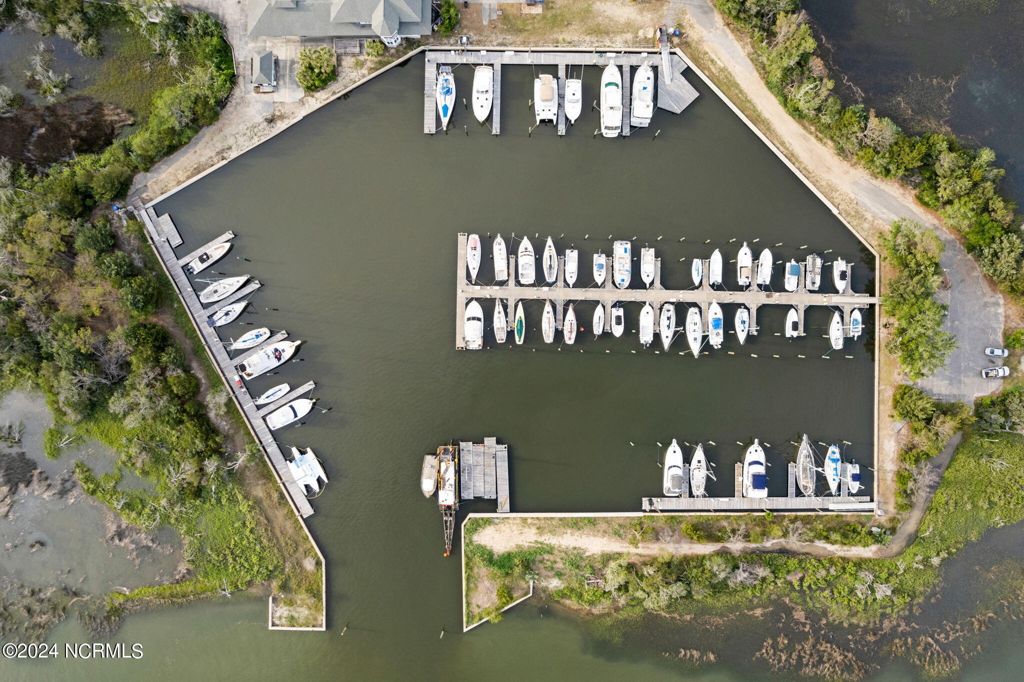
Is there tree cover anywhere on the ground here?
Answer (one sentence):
Yes, the picture does contain tree cover.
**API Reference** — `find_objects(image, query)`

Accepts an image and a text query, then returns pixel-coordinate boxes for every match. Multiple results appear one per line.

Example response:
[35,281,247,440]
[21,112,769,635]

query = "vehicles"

[983,347,1008,358]
[979,366,1010,378]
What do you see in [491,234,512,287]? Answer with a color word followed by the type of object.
white boat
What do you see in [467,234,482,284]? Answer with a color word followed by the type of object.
white boat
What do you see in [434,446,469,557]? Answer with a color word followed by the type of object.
white ship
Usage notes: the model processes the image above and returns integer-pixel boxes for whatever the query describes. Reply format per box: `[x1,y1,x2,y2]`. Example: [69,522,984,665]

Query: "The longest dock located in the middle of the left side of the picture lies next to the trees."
[148,206,316,518]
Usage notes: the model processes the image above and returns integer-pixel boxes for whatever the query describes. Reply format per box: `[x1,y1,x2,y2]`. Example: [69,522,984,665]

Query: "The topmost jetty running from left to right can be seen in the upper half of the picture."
[424,52,699,136]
